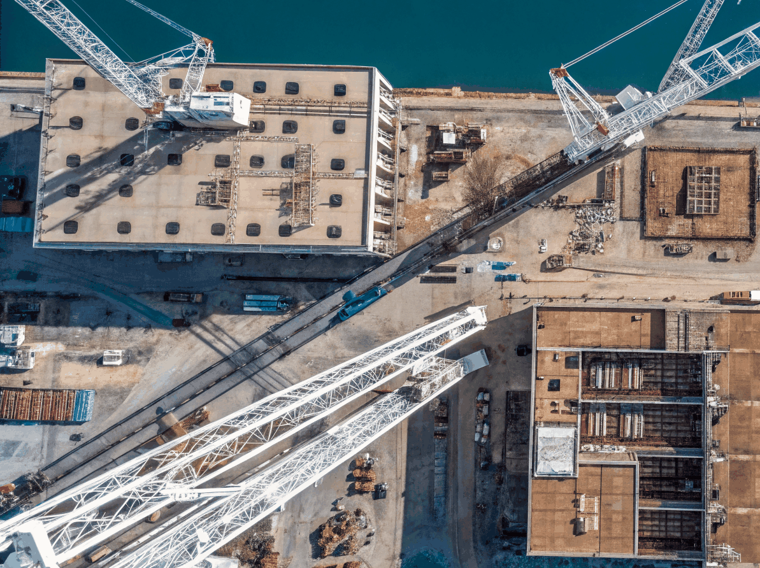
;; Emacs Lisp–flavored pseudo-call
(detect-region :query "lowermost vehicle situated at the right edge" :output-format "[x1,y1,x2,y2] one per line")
[724,290,760,303]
